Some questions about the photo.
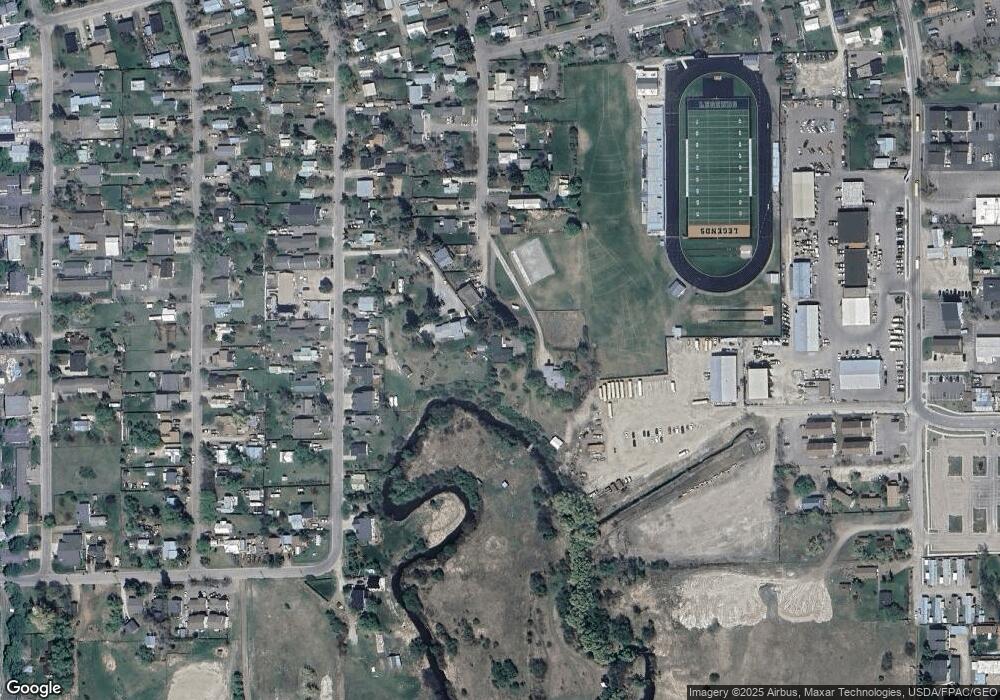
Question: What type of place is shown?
residential area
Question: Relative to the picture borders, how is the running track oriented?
vertically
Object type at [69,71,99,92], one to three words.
house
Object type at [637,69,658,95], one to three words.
building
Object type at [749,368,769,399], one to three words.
building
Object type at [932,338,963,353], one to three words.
house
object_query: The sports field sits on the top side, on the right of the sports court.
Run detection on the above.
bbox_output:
[680,72,759,276]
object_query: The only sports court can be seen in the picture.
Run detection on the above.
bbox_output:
[516,238,555,286]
